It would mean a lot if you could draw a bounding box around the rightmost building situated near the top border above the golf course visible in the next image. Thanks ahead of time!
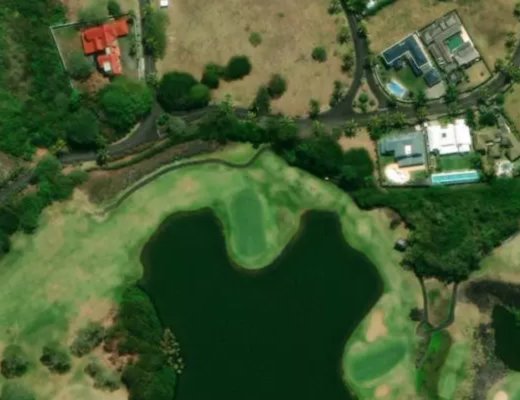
[419,13,481,71]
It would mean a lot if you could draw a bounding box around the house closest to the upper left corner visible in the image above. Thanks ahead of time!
[82,19,129,76]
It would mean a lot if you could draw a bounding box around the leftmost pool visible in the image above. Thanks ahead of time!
[386,80,407,98]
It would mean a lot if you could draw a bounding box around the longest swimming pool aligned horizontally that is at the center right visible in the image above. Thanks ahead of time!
[431,169,480,185]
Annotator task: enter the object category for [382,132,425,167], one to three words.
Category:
house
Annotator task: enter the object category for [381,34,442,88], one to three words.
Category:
house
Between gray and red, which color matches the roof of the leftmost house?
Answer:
red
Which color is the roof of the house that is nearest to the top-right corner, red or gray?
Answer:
gray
